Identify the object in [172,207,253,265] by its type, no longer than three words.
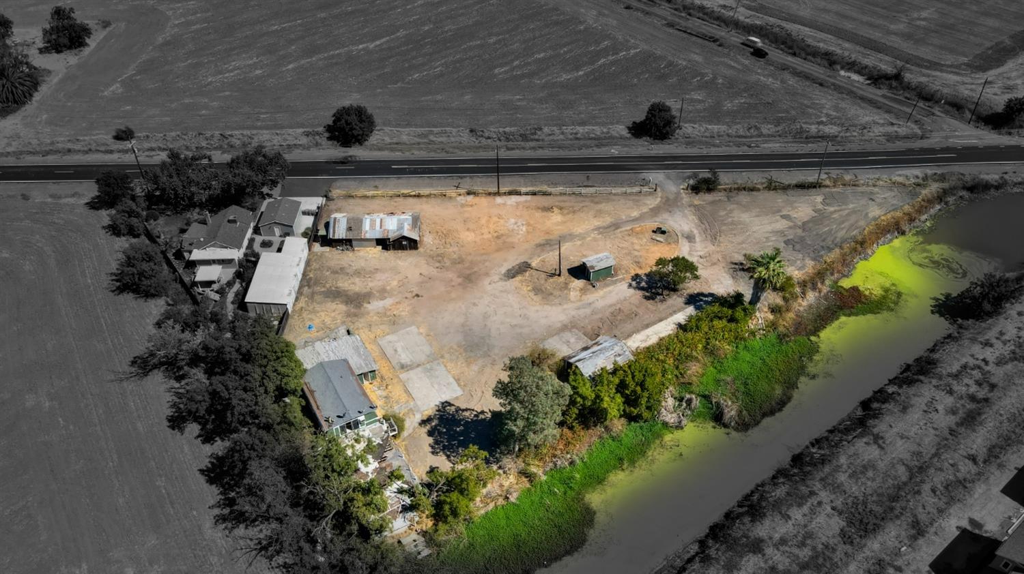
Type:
house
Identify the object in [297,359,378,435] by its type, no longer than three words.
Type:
building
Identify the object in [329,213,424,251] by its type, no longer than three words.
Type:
barn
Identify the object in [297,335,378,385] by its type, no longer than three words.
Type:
shed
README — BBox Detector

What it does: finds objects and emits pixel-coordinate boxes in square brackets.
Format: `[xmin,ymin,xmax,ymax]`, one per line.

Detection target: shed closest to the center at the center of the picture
[575,250,615,280]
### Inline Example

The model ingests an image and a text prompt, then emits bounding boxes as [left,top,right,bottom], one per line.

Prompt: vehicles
[745,37,762,49]
[753,49,769,58]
